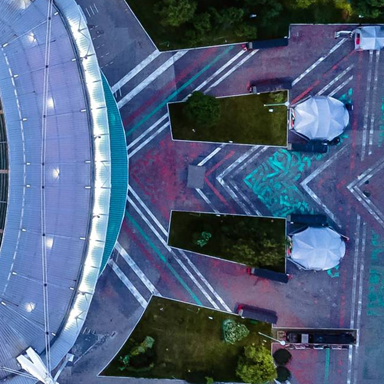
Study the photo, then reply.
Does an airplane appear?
No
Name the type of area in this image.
sports ground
